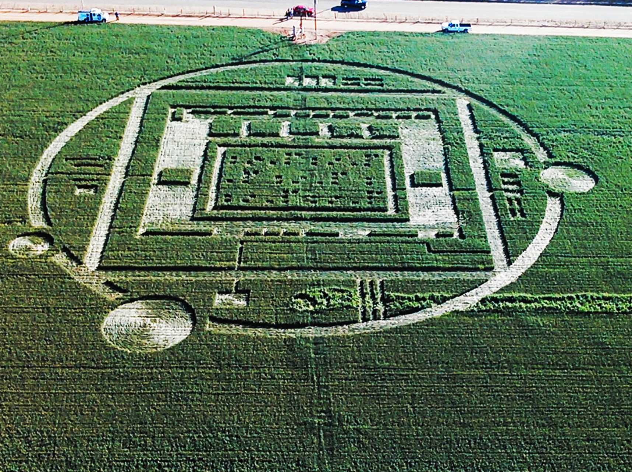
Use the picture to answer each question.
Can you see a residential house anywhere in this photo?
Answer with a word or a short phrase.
No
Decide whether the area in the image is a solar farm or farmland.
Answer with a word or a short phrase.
farmland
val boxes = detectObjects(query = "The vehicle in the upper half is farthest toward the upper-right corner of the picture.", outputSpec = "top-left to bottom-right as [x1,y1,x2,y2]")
[443,20,471,32]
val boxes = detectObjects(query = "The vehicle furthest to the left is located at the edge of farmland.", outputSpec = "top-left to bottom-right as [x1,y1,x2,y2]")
[77,6,110,21]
